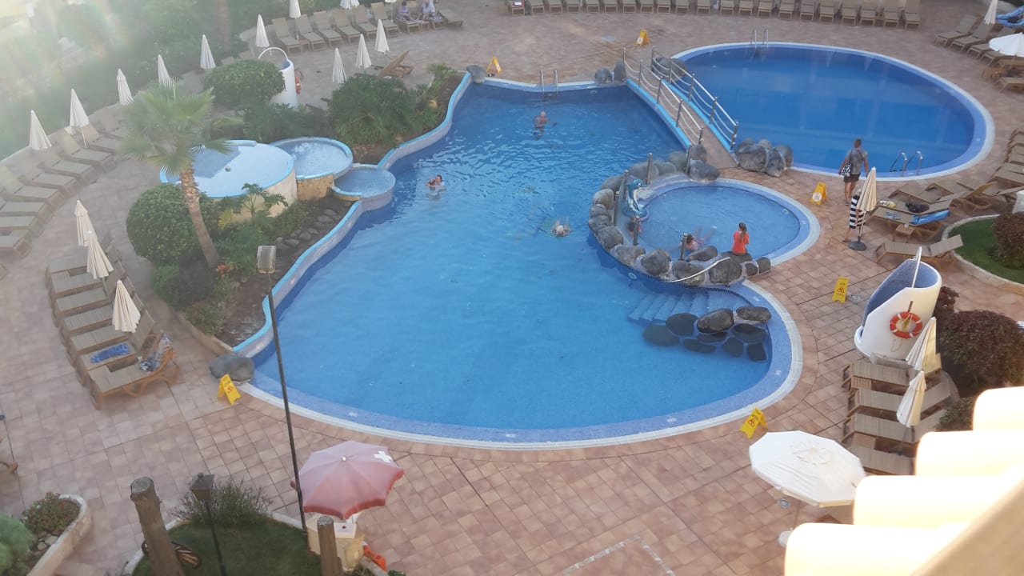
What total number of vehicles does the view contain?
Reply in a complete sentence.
There are no vehicles in this view.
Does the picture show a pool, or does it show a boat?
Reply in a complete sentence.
Of the two, only a pool appears.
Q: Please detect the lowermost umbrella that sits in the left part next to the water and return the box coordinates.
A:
[288,436,405,522]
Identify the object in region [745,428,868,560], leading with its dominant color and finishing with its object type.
white umbrella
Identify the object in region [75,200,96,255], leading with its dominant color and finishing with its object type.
white umbrella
